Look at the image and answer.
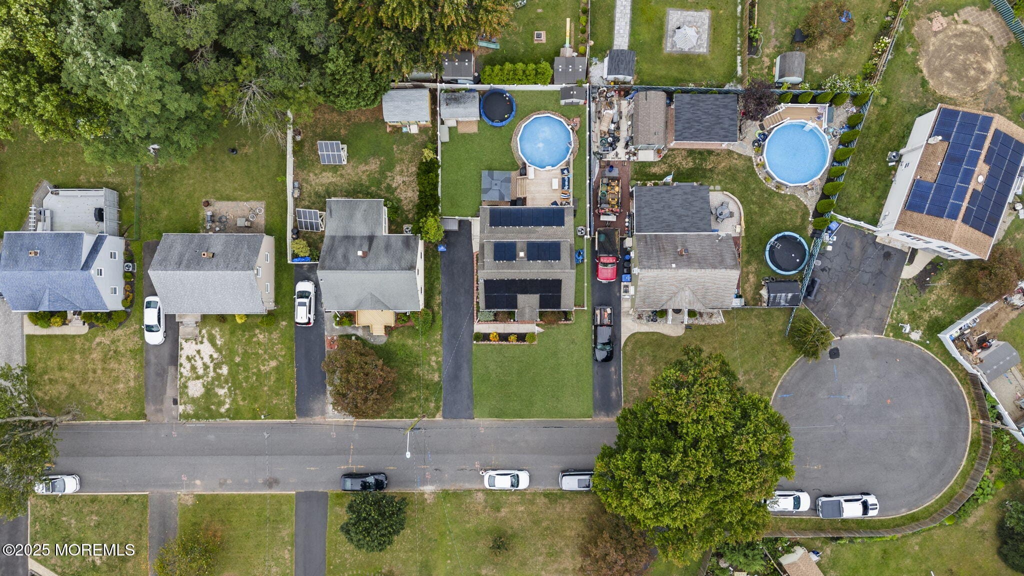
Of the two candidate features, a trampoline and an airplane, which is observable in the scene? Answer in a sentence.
It is a trampoline that can be seen here.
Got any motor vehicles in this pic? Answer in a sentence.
Yes, the picture does show a motor vehicle.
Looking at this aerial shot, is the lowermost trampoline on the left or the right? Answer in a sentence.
The lowermost trampoline sits on the right side.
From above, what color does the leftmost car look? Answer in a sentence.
From above, the leftmost car appears white.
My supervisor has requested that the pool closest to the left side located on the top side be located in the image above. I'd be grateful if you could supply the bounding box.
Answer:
[518,114,572,170]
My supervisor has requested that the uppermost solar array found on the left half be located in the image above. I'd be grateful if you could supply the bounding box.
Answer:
[318,141,354,165]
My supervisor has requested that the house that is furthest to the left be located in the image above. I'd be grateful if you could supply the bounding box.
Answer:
[0,232,123,313]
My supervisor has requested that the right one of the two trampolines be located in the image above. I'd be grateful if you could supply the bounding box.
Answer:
[763,229,814,275]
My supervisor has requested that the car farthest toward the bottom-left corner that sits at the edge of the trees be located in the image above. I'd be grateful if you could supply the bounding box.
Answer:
[34,474,82,496]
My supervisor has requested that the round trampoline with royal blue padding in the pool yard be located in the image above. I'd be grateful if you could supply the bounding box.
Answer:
[480,89,516,128]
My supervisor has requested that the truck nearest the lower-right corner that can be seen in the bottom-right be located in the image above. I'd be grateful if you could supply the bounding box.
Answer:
[815,493,878,519]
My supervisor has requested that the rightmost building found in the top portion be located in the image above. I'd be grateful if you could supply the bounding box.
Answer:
[865,103,1024,271]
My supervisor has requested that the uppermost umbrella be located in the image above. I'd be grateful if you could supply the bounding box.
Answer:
[673,26,699,52]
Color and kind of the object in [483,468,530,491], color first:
white car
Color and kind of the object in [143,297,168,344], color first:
white car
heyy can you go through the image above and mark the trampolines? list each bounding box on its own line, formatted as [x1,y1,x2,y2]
[763,229,814,275]
[480,89,516,128]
